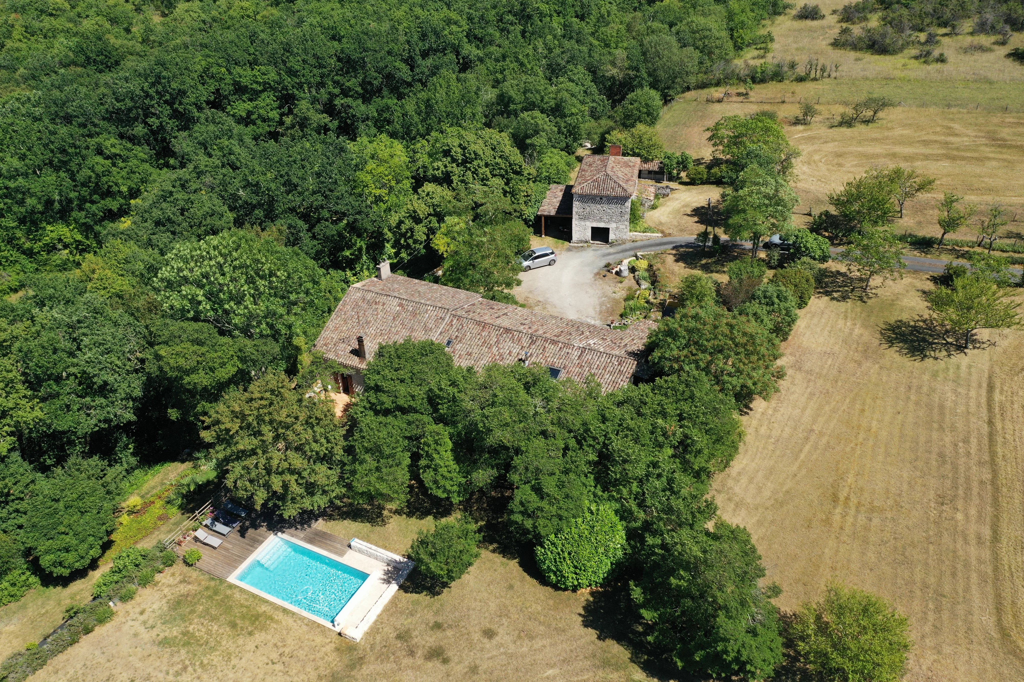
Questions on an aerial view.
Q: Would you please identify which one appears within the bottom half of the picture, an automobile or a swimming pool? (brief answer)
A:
swimming pool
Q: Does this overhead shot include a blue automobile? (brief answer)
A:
No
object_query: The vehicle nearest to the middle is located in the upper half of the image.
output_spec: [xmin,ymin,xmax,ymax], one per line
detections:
[517,246,557,271]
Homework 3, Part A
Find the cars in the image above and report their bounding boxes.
[768,231,792,248]
[517,246,557,271]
